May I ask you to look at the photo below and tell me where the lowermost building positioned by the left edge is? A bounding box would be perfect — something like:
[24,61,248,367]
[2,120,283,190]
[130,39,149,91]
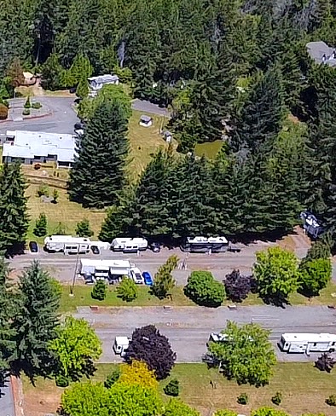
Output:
[2,131,77,169]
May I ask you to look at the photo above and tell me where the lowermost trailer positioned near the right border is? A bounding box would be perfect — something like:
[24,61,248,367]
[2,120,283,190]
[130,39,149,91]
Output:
[279,335,336,352]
